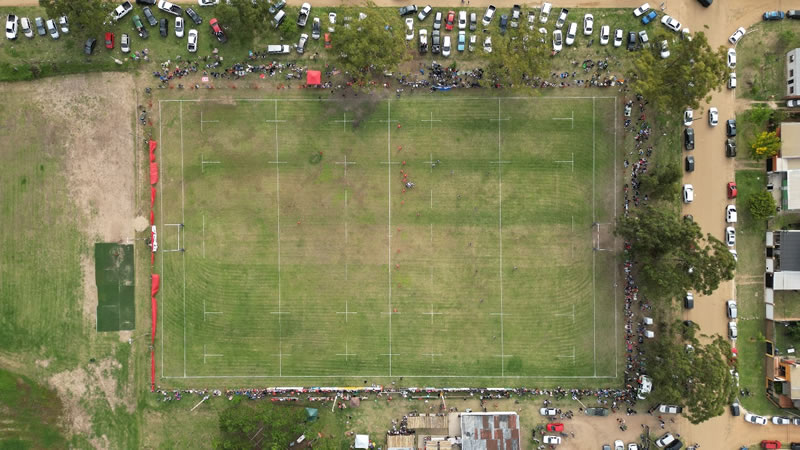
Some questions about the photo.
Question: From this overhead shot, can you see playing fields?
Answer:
Yes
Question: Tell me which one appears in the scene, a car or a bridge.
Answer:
car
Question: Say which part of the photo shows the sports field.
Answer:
center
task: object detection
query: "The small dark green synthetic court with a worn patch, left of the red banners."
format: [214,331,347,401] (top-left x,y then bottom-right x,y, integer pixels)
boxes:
[95,243,134,331]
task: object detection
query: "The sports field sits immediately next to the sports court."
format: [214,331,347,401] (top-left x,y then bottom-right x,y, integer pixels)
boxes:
[157,95,621,382]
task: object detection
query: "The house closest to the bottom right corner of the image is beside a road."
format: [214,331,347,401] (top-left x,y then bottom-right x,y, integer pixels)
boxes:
[766,362,800,412]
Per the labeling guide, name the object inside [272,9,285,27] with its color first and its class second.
white vehicle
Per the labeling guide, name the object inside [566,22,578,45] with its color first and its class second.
white vehicle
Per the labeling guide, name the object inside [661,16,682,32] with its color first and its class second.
white car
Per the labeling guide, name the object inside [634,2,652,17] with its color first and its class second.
white car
